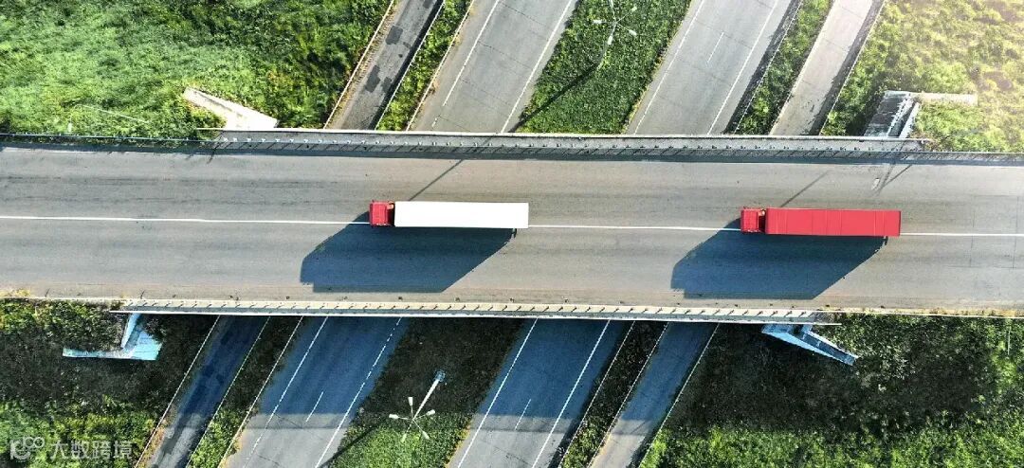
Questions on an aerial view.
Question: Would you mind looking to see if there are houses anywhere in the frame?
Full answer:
No, the scene contains no house.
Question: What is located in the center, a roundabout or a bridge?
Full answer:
It is a bridge that can be seen in the center.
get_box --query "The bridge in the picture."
[63,86,981,366]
